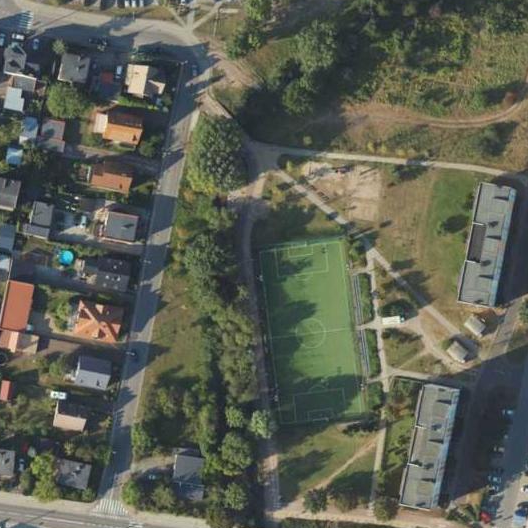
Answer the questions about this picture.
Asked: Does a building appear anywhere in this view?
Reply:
Yes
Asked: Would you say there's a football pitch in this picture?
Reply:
Yes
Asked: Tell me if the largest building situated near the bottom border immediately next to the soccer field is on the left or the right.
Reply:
right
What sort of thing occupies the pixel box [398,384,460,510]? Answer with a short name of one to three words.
building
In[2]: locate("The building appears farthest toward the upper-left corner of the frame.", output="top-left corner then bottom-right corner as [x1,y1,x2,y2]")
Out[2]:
[4,45,40,76]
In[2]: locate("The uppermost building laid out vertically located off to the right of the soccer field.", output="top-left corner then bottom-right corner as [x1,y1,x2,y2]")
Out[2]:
[456,183,516,307]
